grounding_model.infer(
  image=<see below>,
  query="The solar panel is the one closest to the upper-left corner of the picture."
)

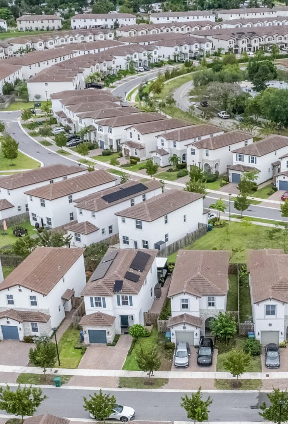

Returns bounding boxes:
[110,179,152,198]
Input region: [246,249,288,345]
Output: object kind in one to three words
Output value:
house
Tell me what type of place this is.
residential area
